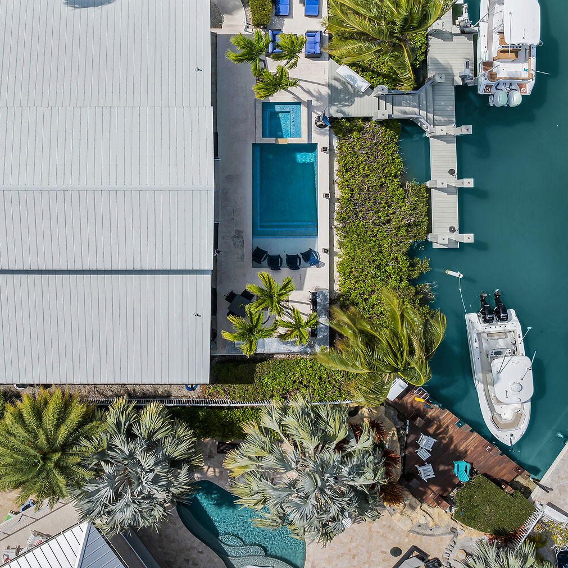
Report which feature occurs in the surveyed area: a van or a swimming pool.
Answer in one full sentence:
I can see a swimming pool in this picture.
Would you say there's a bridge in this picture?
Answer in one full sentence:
No, the photo shows no bridge.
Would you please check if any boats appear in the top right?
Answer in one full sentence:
Yes, you'll find a boat in the top right.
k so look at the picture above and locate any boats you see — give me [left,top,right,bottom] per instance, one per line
[475,0,549,107]
[467,288,535,451]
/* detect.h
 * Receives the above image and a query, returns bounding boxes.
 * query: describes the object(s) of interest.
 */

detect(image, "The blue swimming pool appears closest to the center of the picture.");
[248,143,322,273]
